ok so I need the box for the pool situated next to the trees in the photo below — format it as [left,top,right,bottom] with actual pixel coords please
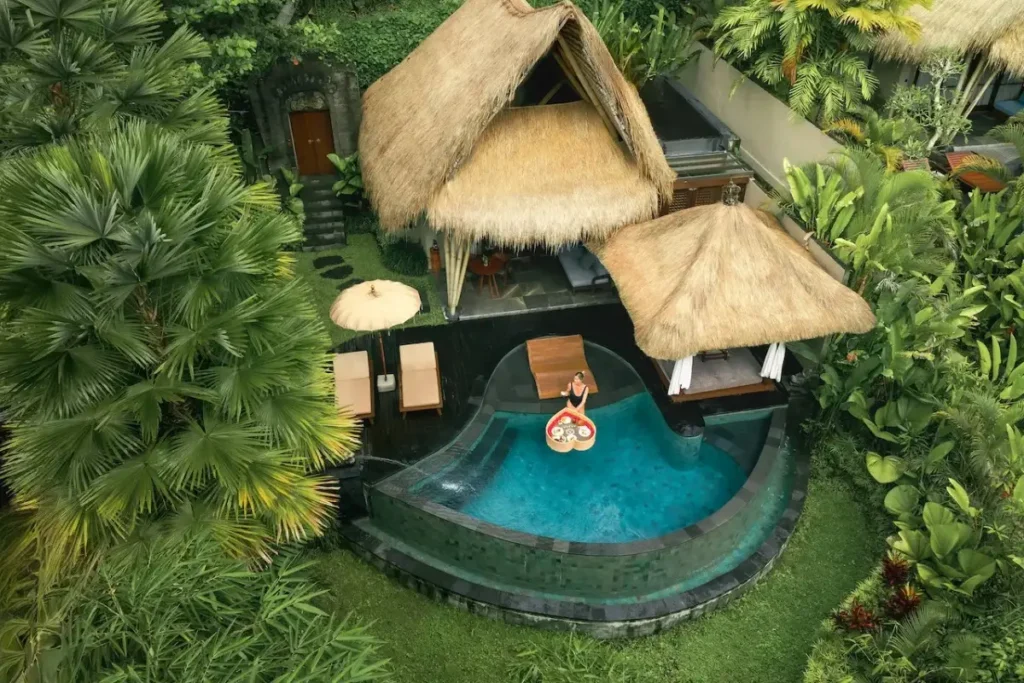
[337,336,810,637]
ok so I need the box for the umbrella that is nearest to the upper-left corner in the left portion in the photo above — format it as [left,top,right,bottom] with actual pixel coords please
[328,273,422,389]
